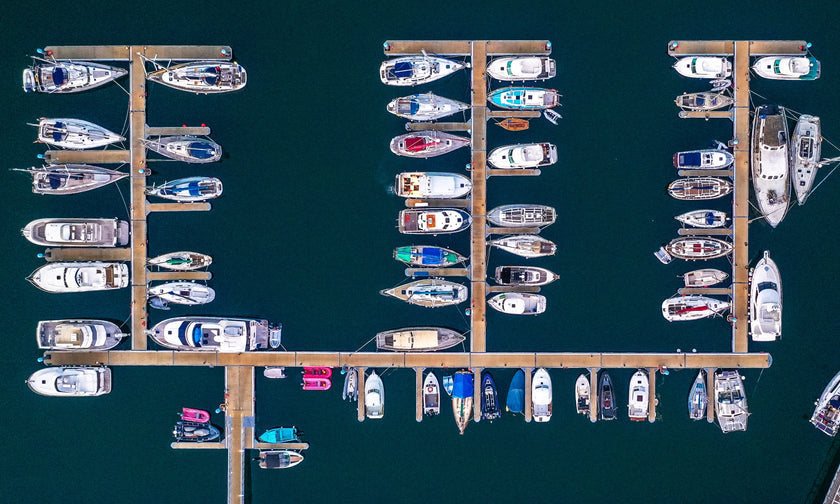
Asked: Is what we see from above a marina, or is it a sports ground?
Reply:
marina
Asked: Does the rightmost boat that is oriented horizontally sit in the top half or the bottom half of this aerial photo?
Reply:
top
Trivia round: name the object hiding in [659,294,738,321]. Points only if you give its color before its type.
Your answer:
white boat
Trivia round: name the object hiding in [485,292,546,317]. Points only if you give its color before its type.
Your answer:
white boat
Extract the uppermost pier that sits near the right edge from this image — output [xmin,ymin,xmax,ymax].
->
[667,40,809,57]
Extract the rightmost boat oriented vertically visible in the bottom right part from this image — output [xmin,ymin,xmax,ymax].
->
[809,369,840,437]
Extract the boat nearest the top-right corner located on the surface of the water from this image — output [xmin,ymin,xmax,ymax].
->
[750,54,820,83]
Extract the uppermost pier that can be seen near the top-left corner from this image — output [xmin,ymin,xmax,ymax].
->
[46,45,232,62]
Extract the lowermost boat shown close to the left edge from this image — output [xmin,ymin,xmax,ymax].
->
[20,364,116,396]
